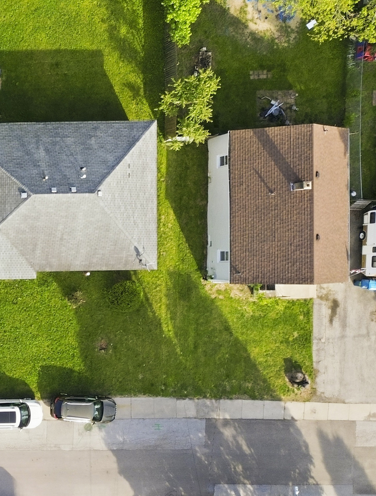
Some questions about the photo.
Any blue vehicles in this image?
No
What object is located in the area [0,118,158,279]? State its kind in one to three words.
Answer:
house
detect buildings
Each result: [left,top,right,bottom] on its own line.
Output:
[207,122,354,298]
[0,118,158,279]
